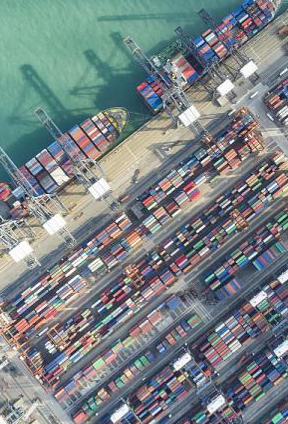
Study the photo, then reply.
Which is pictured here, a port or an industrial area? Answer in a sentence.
What you see here is a port.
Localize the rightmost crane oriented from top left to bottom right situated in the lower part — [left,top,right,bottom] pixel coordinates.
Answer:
[245,283,287,329]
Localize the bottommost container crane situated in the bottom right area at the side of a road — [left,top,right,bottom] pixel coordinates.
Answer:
[206,382,246,424]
